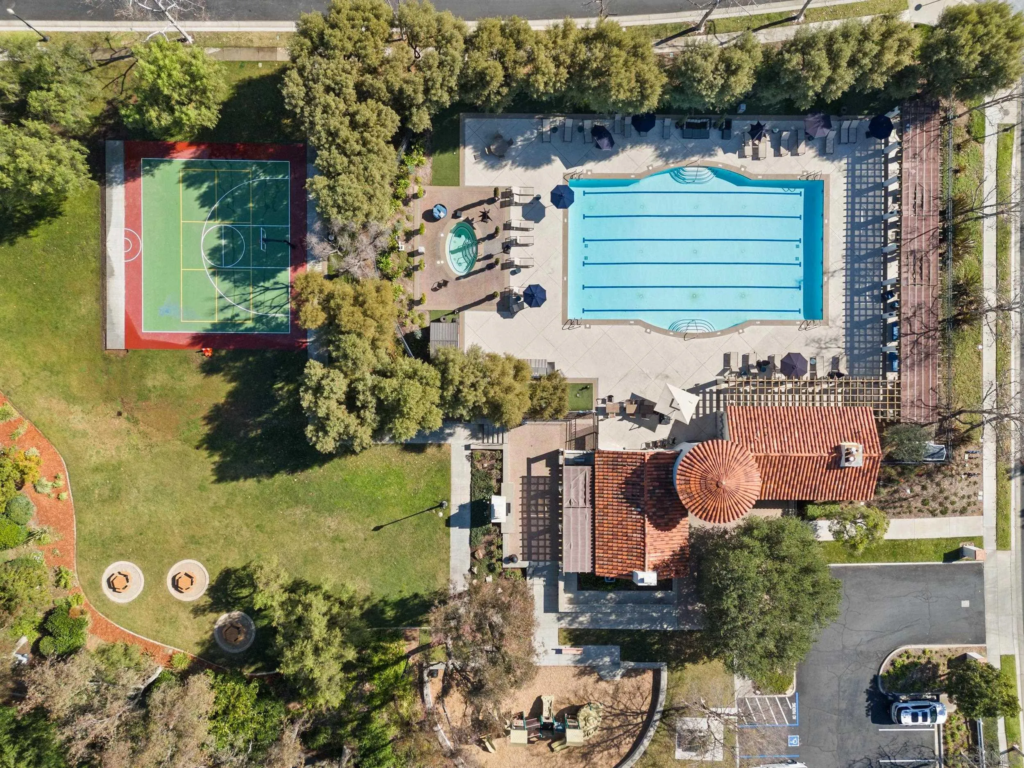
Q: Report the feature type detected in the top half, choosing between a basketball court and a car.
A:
basketball court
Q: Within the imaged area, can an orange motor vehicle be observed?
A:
No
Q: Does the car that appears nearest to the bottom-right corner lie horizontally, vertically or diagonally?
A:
horizontally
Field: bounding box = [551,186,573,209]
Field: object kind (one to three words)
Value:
umbrella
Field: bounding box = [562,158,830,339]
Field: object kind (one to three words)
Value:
swimming pool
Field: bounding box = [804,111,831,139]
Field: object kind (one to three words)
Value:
umbrella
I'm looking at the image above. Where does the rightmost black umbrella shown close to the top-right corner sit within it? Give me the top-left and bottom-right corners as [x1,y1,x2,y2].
[867,116,892,140]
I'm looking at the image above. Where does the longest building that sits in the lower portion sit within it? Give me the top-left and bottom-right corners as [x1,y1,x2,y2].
[595,406,882,587]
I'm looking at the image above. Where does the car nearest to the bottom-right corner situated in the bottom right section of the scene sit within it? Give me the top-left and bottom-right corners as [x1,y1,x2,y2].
[890,697,946,727]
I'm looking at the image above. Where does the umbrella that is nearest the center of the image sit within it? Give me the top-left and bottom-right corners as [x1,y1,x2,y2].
[523,285,546,307]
